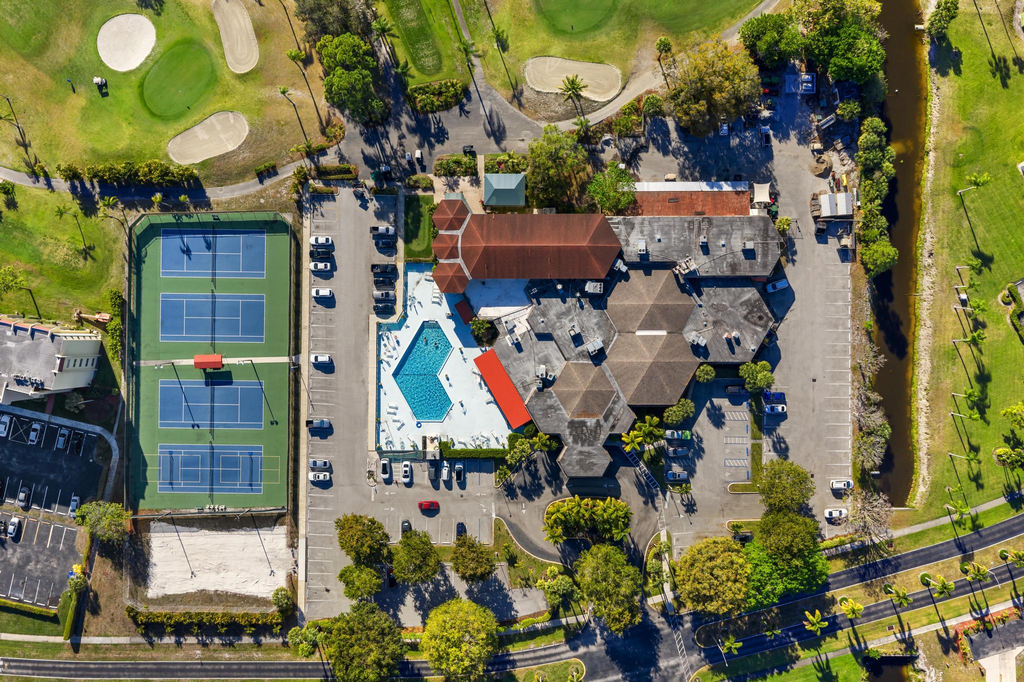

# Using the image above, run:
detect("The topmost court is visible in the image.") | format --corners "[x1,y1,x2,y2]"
[160,224,266,282]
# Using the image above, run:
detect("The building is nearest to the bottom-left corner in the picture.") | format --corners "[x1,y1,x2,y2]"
[0,316,105,403]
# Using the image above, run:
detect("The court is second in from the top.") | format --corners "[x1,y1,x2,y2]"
[160,289,265,346]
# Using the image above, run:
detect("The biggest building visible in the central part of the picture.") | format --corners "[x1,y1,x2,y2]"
[432,193,783,477]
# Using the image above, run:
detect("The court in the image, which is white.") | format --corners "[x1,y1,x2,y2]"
[147,521,288,600]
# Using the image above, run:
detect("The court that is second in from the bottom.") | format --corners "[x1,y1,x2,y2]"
[140,441,281,498]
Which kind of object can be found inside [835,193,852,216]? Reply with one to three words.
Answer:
shed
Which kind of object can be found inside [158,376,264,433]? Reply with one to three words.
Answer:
tennis court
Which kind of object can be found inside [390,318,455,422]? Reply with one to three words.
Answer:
swimming pool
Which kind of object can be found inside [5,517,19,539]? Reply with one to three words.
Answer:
car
